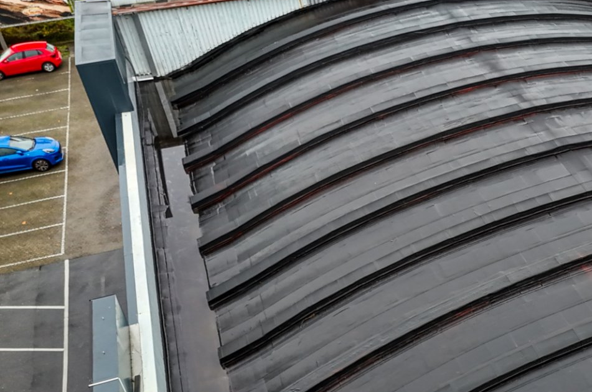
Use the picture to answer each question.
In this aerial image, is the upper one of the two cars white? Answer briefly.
No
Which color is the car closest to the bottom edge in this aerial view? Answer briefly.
blue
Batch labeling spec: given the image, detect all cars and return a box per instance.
[0,134,64,176]
[0,40,60,78]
